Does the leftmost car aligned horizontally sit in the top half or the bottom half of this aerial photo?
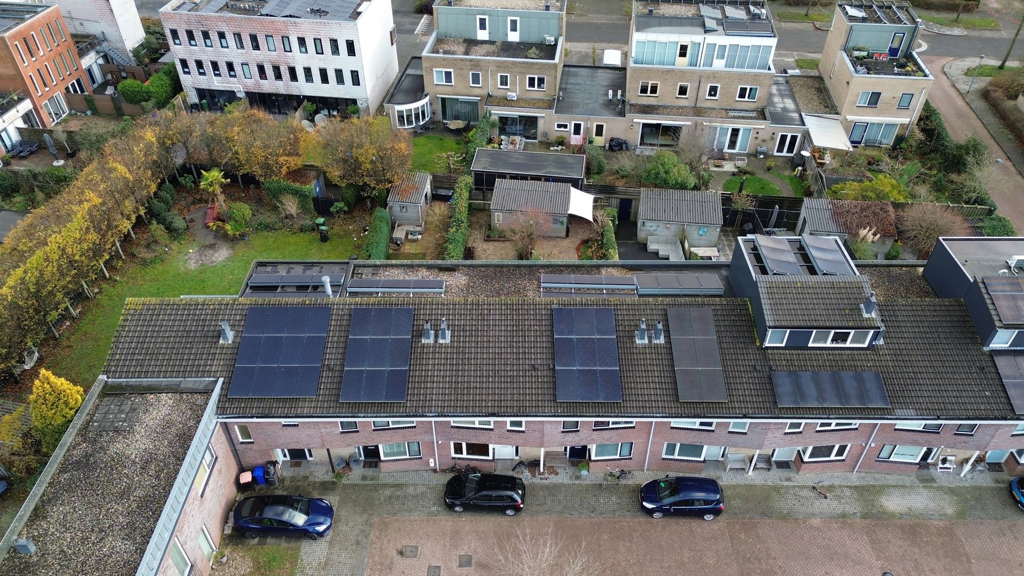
bottom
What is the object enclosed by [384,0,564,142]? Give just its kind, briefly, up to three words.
house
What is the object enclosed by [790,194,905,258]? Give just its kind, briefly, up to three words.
shed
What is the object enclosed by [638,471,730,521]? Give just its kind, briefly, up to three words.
car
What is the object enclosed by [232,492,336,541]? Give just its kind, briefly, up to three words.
car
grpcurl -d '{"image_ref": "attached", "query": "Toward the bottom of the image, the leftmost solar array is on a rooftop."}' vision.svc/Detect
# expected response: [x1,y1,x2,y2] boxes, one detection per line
[227,305,329,396]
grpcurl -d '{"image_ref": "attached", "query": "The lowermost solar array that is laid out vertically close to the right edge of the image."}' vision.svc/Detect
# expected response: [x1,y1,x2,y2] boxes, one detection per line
[994,352,1024,414]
